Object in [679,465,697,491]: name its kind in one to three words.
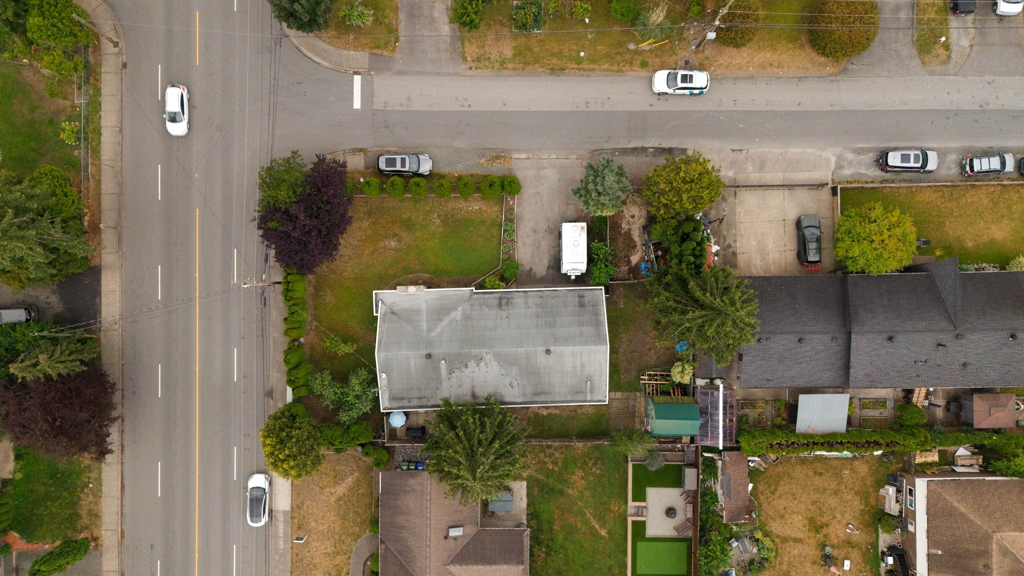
shed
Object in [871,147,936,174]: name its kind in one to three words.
car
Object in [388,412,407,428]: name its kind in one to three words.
umbrella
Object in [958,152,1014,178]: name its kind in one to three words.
car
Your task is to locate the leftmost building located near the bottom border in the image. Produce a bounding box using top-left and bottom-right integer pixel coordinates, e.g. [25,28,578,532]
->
[378,469,530,576]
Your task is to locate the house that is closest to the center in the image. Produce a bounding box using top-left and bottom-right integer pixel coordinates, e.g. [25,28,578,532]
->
[372,285,611,413]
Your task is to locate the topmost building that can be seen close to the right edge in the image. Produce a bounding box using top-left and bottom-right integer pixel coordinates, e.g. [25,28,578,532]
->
[737,257,1024,389]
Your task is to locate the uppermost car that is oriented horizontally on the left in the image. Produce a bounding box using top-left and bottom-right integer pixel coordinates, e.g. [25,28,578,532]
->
[376,150,433,177]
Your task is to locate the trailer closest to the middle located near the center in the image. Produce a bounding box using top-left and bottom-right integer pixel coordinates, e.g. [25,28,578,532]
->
[555,220,588,287]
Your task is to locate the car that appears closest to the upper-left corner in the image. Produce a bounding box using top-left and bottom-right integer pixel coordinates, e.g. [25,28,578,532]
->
[163,84,191,137]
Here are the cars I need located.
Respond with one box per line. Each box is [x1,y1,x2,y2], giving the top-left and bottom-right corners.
[871,147,936,174]
[163,84,191,137]
[795,212,823,274]
[958,152,1014,178]
[651,69,709,97]
[990,0,1019,16]
[376,150,433,177]
[948,0,980,15]
[245,470,273,528]
[0,302,39,327]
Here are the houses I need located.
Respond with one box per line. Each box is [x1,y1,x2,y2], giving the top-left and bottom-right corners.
[378,469,530,576]
[737,257,1024,389]
[372,285,611,413]
[890,472,1024,576]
